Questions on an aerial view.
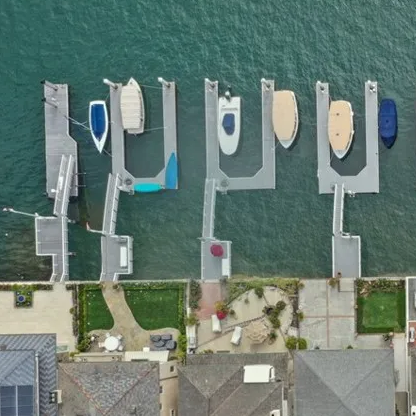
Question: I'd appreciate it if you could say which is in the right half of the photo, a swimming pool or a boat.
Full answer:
The one visible in the right half of the photo is a boat.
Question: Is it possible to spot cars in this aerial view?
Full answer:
No, there is no car in the image.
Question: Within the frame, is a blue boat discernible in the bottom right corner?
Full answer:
No, looking in the bottom right corner, there is no blue boat.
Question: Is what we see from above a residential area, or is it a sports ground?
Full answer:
What you see here is a residential area.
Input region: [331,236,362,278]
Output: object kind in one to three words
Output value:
pier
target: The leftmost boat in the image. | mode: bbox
[70,101,114,157]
